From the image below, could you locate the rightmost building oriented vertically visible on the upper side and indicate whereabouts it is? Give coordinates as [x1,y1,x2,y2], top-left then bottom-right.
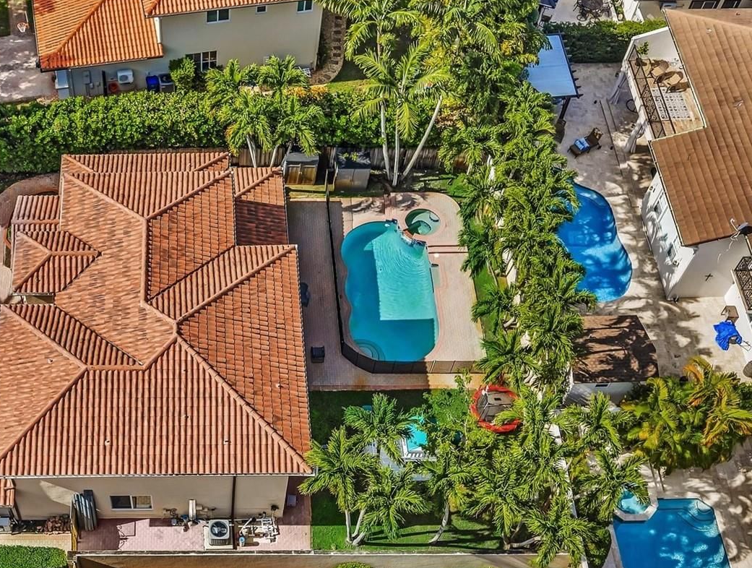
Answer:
[597,2,752,357]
